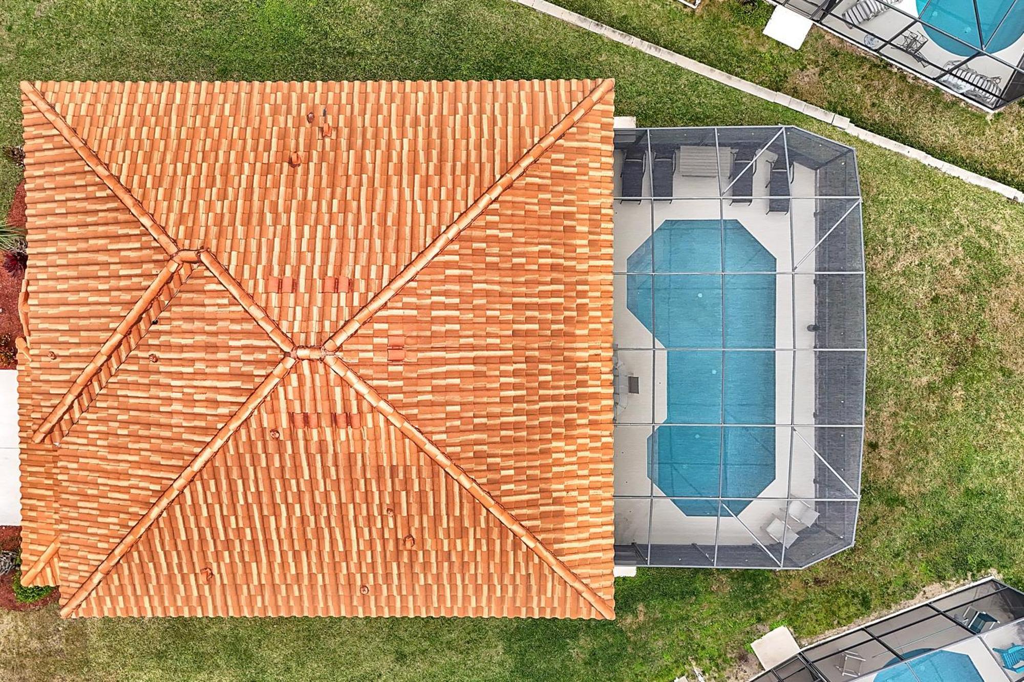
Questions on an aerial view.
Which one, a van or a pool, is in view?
pool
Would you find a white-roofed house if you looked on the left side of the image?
No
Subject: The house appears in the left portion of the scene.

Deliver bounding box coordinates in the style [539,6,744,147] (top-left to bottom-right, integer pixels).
[15,75,618,623]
